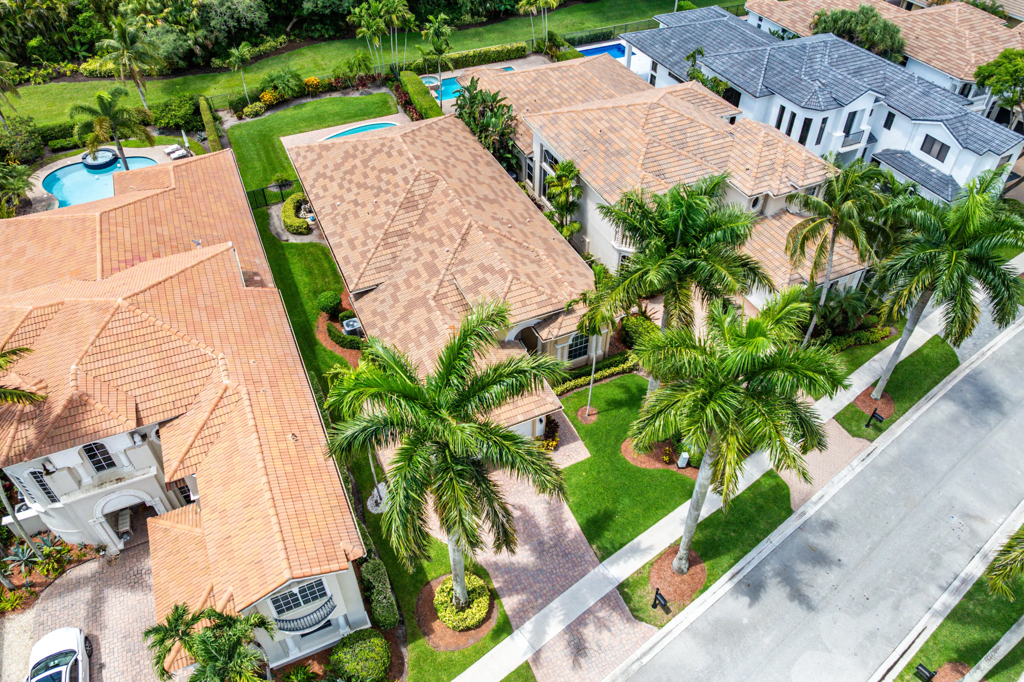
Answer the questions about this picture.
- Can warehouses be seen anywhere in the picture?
No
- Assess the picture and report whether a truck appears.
No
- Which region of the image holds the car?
bottom left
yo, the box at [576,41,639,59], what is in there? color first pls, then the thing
blue swimming pool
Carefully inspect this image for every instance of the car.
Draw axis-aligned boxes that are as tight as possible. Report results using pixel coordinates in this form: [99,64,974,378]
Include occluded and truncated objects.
[14,624,96,682]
